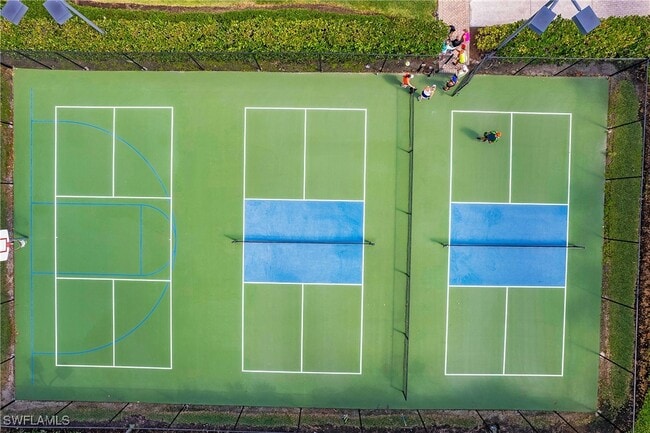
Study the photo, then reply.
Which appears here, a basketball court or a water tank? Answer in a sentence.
Of the two, only a basketball court appears.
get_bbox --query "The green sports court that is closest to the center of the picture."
[242,107,367,375]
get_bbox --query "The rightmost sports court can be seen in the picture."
[445,110,572,376]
